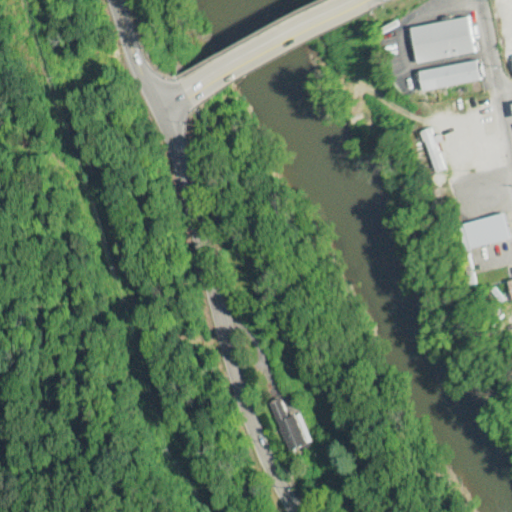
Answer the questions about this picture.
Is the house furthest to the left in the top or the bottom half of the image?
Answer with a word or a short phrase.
bottom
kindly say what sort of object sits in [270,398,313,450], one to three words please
house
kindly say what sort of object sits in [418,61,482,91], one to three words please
building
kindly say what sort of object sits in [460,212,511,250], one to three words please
building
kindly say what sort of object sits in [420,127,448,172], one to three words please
shed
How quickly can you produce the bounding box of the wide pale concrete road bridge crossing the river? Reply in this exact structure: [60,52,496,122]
[179,0,340,108]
